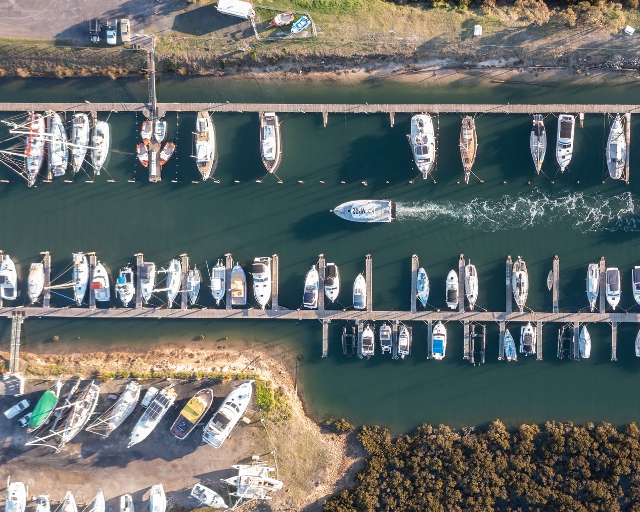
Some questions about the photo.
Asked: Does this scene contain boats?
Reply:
Yes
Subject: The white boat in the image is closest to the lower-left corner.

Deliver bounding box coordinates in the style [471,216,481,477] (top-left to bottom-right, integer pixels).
[6,480,28,512]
